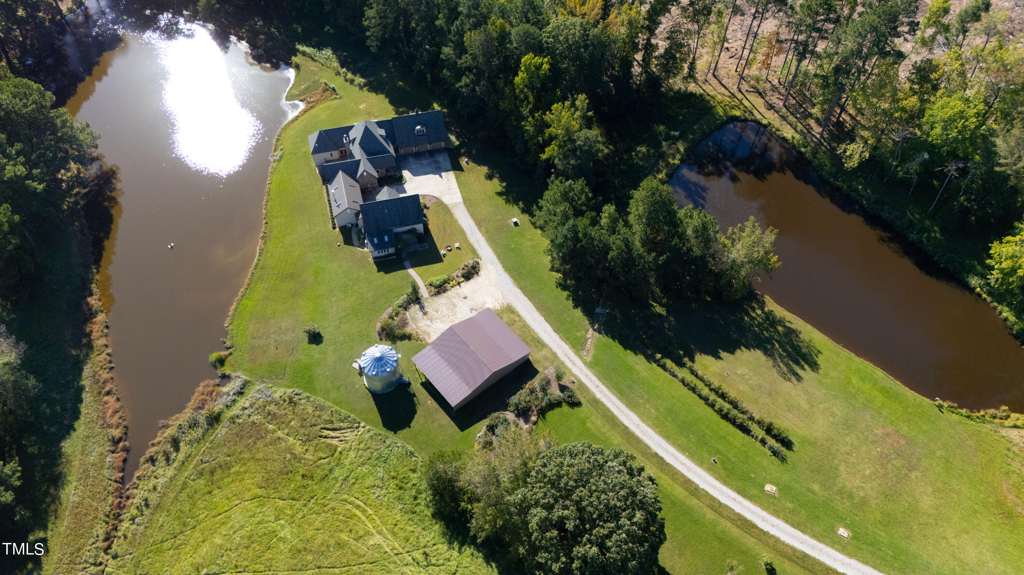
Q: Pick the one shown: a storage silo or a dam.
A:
storage silo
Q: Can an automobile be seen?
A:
No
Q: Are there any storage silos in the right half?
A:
No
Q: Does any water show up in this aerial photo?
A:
Yes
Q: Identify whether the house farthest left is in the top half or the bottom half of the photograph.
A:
top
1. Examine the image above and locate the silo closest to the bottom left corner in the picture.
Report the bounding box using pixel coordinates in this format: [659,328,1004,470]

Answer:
[354,345,410,395]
